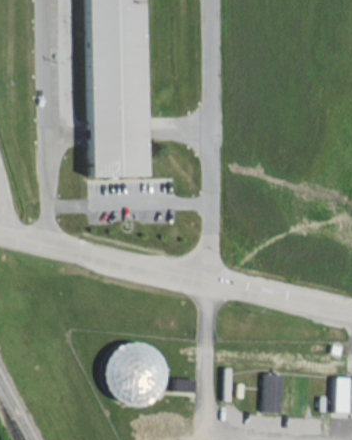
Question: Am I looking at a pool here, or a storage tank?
storage tank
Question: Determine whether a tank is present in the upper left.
No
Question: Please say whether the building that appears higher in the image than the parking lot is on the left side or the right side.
left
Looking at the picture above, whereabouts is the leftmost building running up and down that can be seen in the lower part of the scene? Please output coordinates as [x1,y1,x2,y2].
[222,367,234,402]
